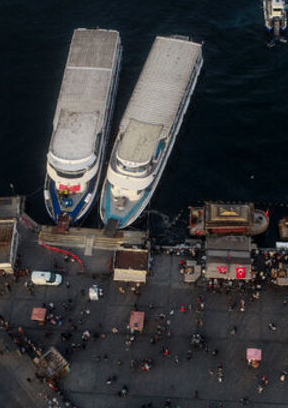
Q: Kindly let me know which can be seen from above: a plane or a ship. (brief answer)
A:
ship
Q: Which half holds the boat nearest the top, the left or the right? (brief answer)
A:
right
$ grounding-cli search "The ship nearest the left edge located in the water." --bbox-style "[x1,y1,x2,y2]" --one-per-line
[44,23,123,228]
